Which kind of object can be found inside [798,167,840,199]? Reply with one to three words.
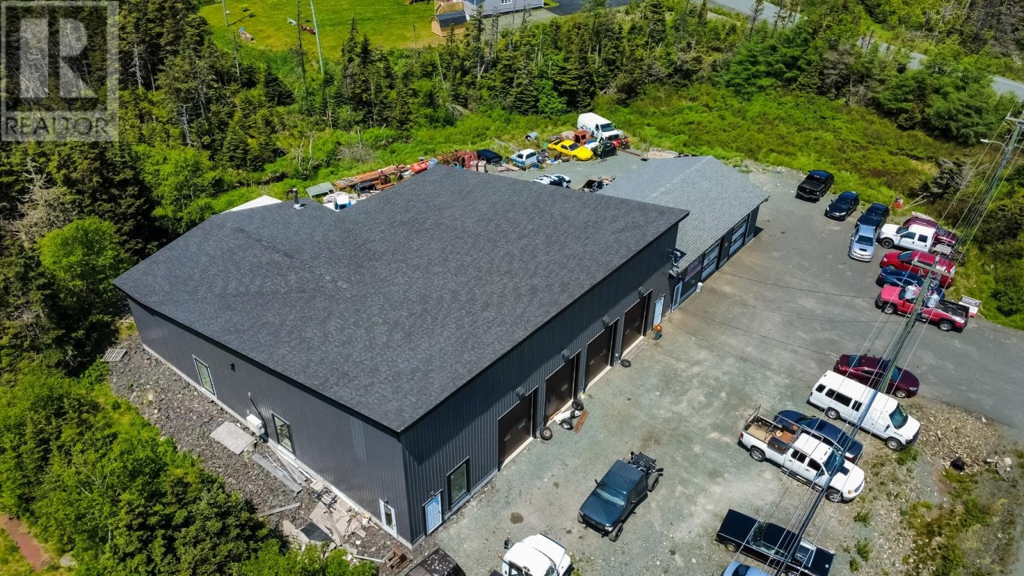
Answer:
truck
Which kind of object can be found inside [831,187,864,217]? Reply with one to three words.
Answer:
car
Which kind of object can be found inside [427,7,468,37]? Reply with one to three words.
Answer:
shed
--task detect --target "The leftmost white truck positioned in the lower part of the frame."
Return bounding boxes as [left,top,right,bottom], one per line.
[487,538,575,576]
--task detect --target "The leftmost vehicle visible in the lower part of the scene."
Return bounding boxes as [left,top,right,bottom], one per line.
[415,553,470,576]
